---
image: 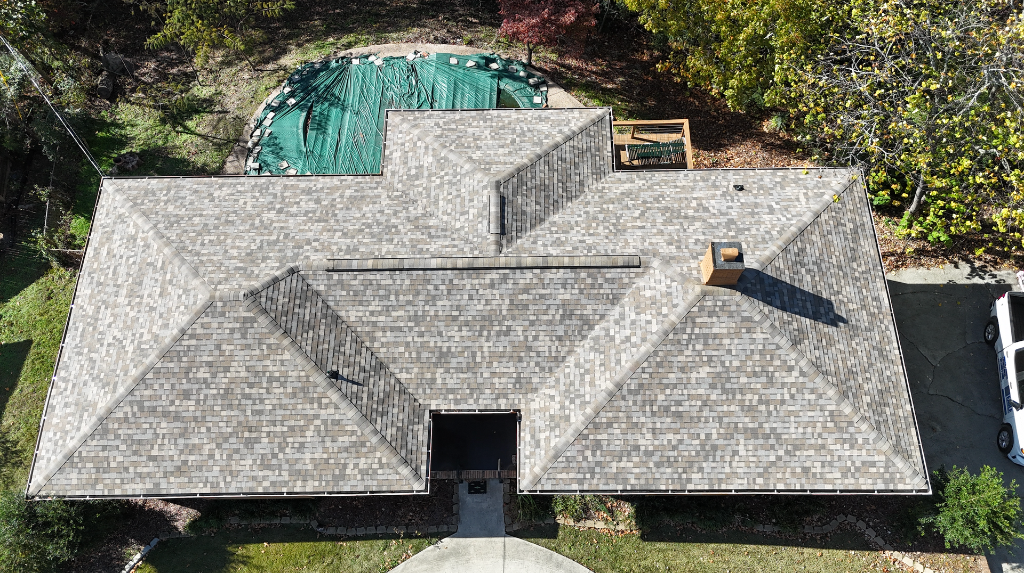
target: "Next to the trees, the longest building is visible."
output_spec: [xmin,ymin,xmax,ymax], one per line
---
[26,106,932,500]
